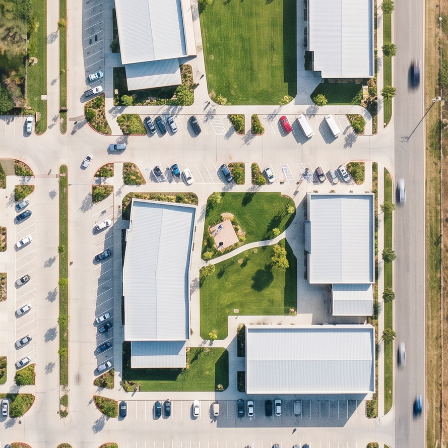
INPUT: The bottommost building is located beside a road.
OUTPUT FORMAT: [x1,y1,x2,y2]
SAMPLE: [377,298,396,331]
[243,321,375,394]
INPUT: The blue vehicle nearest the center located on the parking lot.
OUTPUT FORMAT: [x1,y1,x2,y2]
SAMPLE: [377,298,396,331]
[220,164,233,183]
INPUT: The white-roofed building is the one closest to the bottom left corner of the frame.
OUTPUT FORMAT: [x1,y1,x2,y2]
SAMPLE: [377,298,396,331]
[122,196,197,369]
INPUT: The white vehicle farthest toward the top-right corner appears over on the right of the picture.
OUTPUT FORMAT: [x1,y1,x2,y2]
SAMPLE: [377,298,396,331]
[324,113,341,138]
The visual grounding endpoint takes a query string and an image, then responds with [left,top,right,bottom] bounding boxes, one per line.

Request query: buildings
[115,0,197,91]
[306,0,374,78]
[122,196,197,369]
[304,192,375,316]
[243,321,375,394]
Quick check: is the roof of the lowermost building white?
Yes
